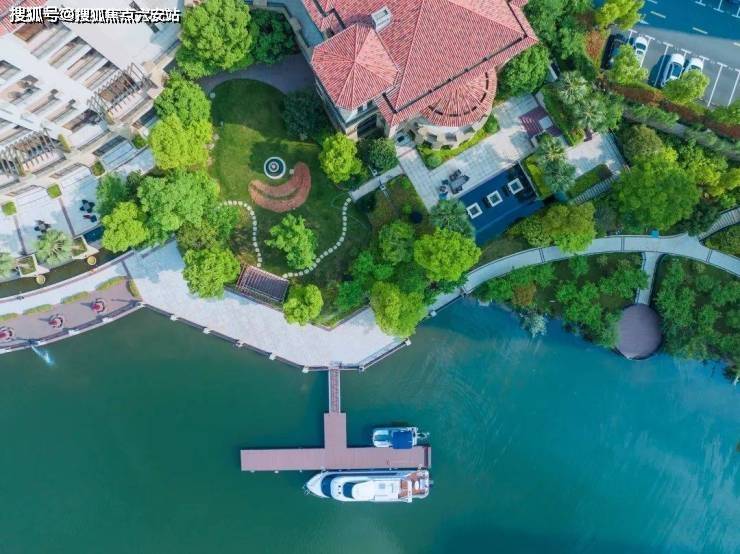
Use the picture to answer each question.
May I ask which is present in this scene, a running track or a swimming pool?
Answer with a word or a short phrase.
swimming pool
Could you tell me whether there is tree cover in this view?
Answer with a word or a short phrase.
Yes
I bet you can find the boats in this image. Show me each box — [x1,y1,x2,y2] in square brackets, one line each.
[303,464,432,503]
[373,428,427,449]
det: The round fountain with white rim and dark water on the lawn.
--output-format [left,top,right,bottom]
[263,156,286,178]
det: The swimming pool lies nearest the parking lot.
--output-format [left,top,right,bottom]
[458,159,549,243]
